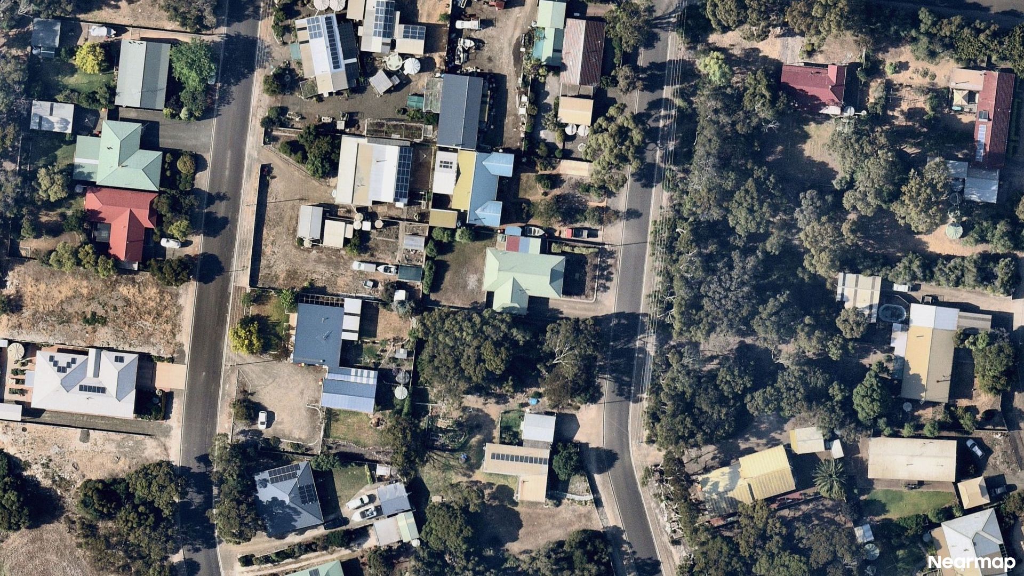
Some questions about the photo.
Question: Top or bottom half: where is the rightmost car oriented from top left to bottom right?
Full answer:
The rightmost car oriented from top left to bottom right sits in the bottom half of the picture.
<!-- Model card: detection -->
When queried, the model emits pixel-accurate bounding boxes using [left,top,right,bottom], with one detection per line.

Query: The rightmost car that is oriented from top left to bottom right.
[966,438,986,460]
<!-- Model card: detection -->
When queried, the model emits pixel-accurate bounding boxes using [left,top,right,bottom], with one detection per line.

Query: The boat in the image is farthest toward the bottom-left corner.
[352,507,378,521]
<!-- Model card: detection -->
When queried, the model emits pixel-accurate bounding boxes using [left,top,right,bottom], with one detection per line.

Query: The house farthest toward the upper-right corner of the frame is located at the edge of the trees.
[950,68,1015,169]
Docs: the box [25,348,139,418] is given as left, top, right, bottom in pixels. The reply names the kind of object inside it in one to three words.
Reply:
house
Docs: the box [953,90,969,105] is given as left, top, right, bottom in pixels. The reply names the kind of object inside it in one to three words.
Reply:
gazebo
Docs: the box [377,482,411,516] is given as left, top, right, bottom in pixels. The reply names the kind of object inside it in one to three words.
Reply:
shed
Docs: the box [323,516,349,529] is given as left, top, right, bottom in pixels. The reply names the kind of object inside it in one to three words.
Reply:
vehicle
